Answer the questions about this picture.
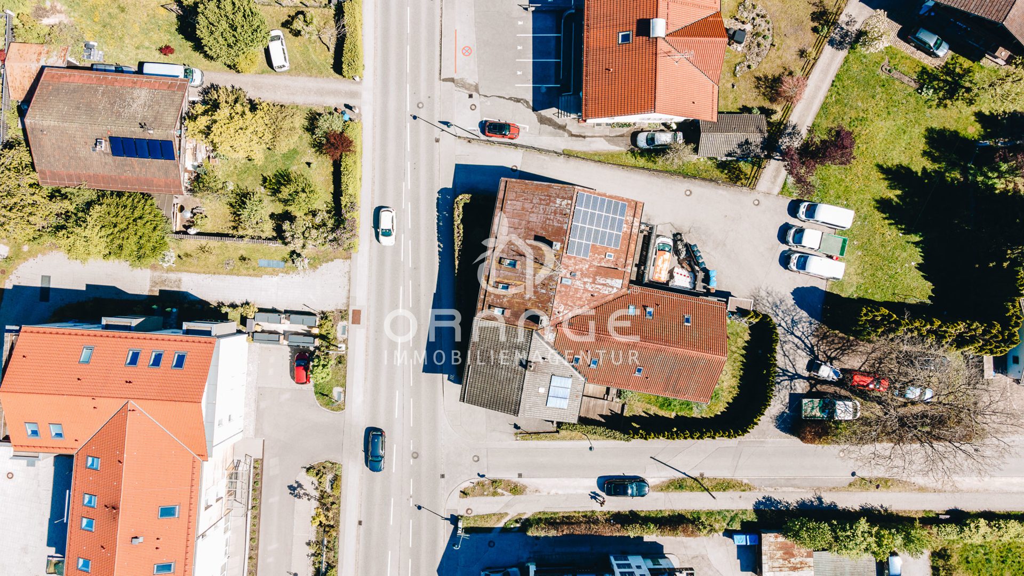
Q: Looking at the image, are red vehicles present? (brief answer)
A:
Yes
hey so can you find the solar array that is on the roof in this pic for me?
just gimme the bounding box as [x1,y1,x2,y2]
[567,192,628,258]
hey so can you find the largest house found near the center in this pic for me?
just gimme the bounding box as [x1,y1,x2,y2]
[459,178,728,430]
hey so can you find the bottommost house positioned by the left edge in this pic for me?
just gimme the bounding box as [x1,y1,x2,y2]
[0,317,248,576]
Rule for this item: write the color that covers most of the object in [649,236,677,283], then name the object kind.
white van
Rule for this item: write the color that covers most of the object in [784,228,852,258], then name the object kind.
white truck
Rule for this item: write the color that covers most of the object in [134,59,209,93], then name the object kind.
white van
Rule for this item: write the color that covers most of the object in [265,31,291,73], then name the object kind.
white car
